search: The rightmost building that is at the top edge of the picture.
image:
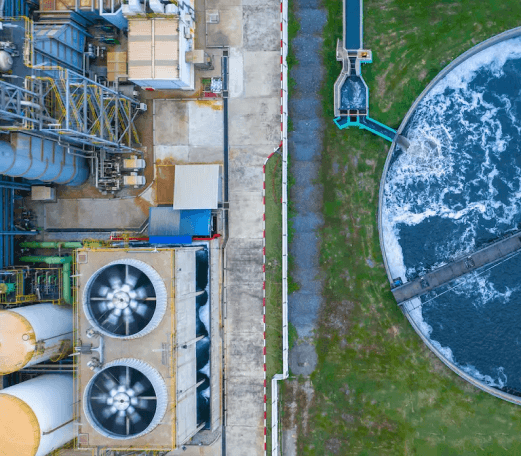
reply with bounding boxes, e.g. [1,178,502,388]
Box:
[127,0,205,89]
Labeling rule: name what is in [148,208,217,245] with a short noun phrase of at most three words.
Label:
shed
